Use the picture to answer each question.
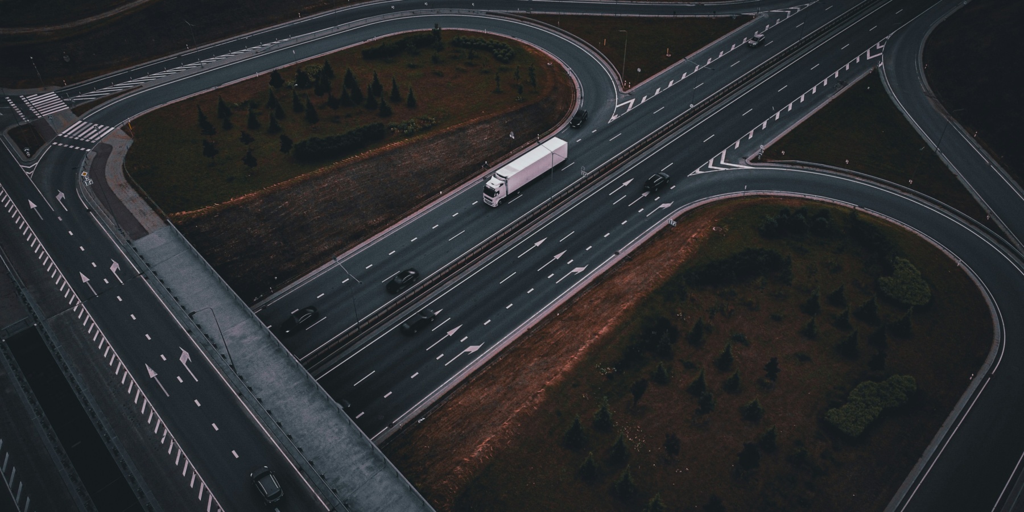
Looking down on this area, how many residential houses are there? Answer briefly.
zero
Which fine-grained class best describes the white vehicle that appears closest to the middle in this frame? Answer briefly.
truck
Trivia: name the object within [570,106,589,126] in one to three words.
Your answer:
car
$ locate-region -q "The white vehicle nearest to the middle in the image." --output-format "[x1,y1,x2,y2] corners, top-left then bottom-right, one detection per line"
[483,135,570,205]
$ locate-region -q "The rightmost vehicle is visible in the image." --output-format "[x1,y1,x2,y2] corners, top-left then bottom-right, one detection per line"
[745,28,765,43]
